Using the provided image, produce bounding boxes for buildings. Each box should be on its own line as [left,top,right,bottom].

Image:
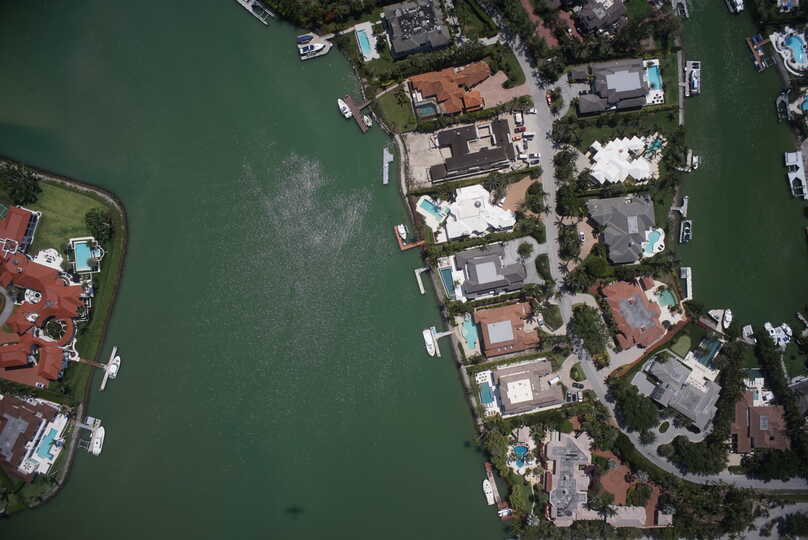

[600,280,664,350]
[0,207,88,381]
[428,120,514,180]
[494,359,564,415]
[656,512,672,525]
[0,394,59,478]
[572,58,649,115]
[452,245,526,296]
[573,0,624,35]
[585,196,656,264]
[472,301,539,357]
[546,431,646,527]
[649,348,727,429]
[442,184,514,241]
[384,0,451,54]
[728,392,790,451]
[590,135,653,184]
[408,60,490,114]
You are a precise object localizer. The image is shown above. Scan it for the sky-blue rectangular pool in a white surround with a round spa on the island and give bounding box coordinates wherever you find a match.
[67,237,103,273]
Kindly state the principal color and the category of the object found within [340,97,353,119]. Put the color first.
white boat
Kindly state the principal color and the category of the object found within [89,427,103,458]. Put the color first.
white boat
